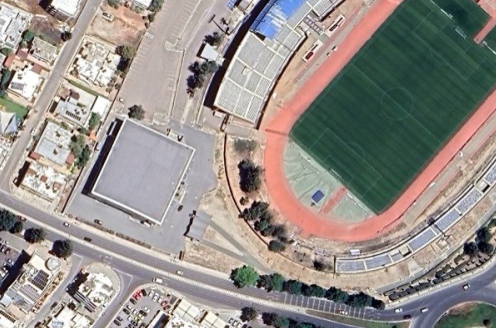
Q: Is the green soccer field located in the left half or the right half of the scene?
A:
right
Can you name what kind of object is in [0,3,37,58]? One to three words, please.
house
